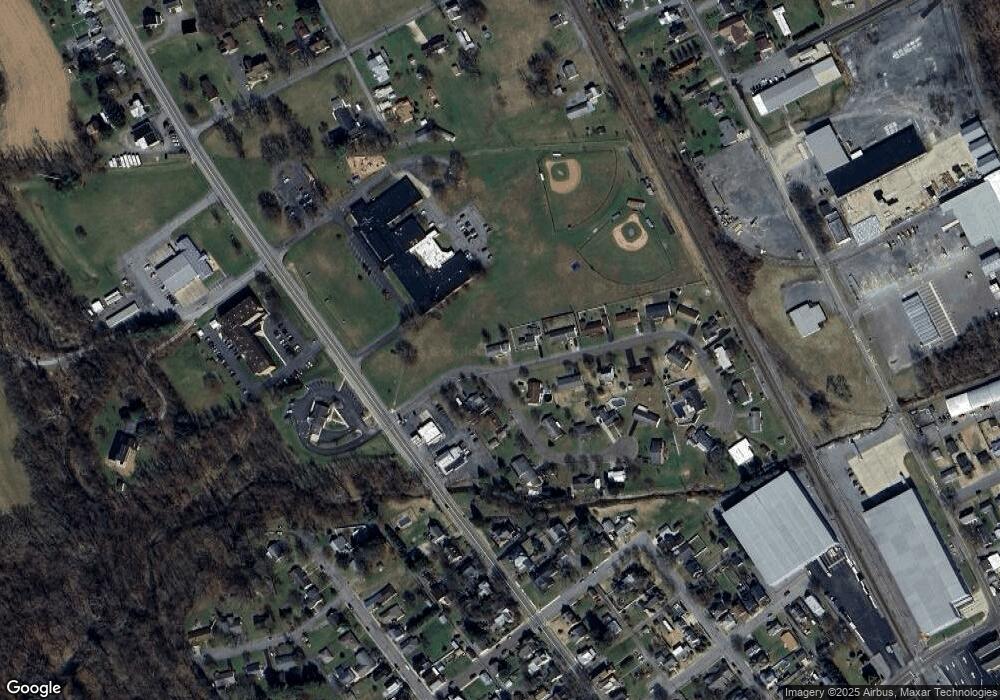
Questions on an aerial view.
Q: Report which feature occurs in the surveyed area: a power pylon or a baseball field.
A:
baseball field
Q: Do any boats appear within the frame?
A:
No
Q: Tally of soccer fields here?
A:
0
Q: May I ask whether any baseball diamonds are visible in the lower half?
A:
No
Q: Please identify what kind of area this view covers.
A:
residential area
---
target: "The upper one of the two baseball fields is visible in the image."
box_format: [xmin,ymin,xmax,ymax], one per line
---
[545,159,581,193]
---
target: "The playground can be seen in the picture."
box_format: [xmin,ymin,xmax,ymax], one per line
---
[347,155,387,179]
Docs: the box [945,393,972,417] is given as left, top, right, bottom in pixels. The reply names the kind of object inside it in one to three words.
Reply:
shed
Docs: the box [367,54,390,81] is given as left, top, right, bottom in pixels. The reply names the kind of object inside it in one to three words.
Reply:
house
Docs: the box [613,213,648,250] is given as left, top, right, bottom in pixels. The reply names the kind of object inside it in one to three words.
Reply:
baseball field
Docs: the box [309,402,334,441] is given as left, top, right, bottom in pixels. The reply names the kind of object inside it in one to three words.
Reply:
building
